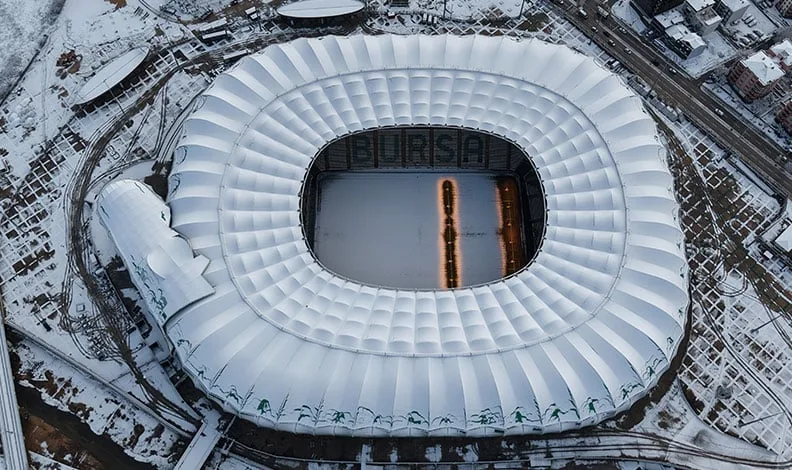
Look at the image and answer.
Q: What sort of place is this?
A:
sports ground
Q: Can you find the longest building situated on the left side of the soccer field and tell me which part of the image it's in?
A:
left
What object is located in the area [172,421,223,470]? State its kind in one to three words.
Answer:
bridge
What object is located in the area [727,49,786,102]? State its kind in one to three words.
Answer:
building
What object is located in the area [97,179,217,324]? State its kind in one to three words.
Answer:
building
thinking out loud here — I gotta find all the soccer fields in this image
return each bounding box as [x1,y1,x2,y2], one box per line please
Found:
[311,169,531,291]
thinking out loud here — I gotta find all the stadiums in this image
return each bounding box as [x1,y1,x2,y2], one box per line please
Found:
[160,33,689,436]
